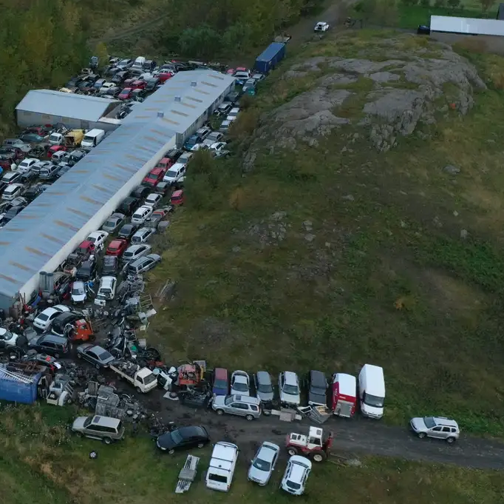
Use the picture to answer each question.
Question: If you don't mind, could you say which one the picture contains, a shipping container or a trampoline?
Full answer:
The one in the frame is a shipping container.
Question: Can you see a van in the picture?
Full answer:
Yes, the photo shows a van.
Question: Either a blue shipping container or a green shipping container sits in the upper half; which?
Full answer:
Looking in the upper half, you will find a blue shipping container.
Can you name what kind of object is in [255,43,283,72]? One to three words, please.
shipping container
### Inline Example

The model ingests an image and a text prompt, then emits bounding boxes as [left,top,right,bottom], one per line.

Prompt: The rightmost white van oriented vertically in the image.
[361,358,390,416]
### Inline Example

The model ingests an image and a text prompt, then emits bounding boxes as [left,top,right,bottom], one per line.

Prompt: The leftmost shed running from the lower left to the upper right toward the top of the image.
[0,73,225,318]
